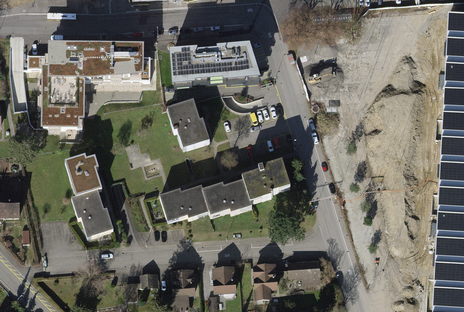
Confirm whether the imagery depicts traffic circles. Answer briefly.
No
